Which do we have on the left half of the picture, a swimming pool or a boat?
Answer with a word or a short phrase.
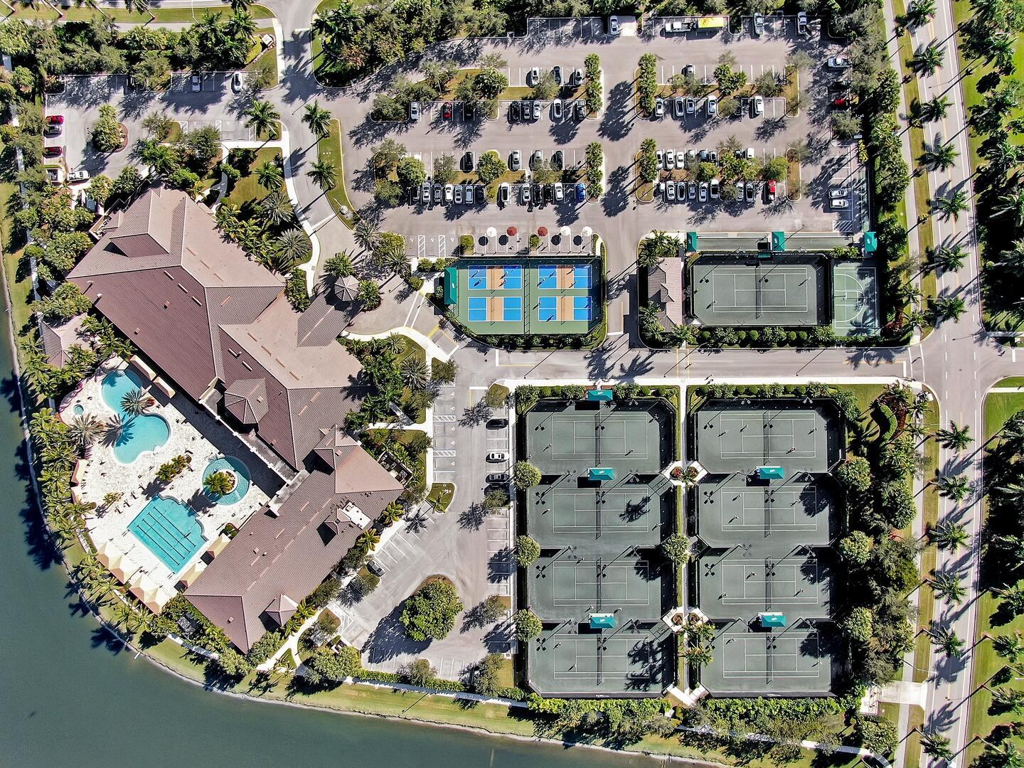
swimming pool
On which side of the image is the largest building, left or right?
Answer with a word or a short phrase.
left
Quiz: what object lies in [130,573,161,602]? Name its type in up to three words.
tent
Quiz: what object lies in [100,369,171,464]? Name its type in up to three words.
swimming pool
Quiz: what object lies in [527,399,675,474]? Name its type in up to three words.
tennis court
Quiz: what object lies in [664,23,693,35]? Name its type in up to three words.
vehicle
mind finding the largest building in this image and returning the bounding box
[65,181,404,655]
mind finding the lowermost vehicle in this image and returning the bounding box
[367,559,386,577]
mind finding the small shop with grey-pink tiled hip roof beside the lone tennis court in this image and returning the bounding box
[648,257,682,325]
